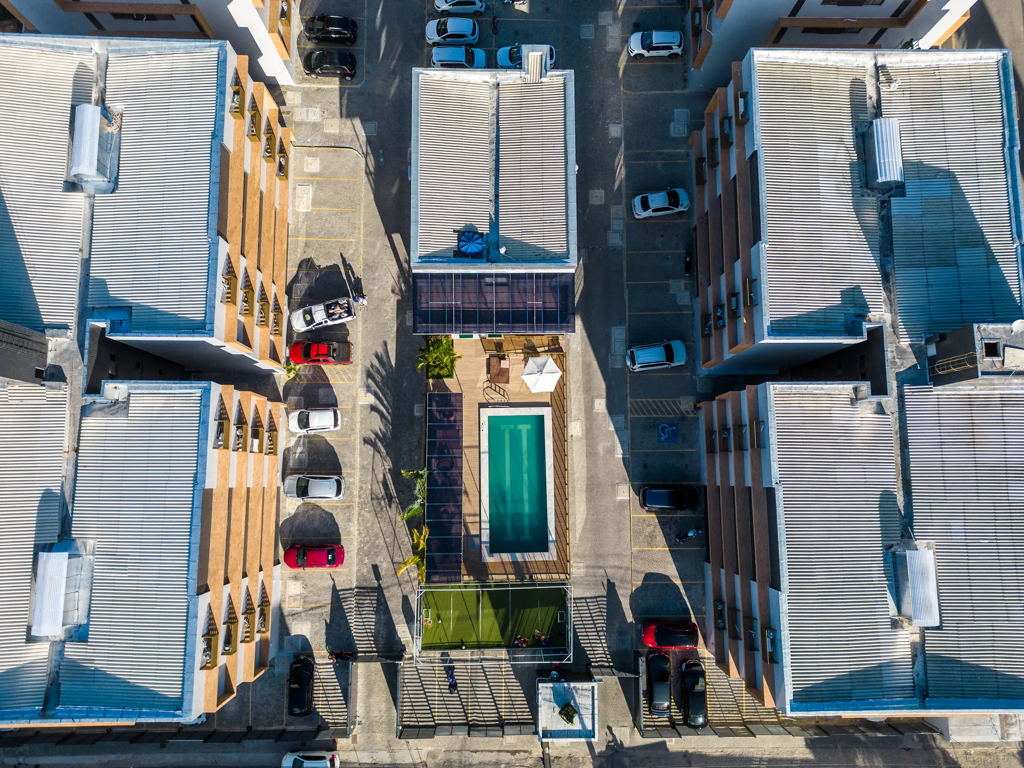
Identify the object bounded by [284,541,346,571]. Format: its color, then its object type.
red car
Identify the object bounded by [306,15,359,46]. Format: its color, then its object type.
black car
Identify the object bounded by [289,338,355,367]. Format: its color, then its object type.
red truck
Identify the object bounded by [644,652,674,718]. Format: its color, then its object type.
black car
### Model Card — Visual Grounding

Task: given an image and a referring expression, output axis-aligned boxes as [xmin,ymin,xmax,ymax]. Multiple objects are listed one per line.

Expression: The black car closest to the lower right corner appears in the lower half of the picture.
[678,657,709,726]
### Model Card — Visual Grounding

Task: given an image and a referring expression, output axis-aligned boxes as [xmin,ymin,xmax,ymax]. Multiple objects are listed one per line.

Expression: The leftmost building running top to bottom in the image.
[0,42,295,724]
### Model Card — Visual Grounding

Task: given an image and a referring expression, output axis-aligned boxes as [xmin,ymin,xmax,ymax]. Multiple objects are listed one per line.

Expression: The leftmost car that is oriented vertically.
[286,649,317,718]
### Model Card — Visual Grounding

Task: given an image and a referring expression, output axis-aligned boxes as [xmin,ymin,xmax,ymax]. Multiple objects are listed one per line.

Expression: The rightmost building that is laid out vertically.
[689,44,1024,719]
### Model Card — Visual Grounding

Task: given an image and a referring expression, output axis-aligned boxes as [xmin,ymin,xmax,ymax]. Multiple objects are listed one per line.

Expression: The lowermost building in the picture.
[538,673,597,742]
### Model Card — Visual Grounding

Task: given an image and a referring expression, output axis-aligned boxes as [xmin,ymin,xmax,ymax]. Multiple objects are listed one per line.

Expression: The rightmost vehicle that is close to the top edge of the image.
[628,29,684,60]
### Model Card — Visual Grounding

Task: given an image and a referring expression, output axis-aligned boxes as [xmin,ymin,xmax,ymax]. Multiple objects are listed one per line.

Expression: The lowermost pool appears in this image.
[480,407,555,562]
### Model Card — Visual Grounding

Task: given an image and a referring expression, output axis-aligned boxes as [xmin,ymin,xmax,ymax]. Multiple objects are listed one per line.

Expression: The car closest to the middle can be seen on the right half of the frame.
[625,339,684,371]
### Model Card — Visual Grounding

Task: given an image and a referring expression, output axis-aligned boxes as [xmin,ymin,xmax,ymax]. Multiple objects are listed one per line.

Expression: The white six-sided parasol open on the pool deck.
[521,357,563,393]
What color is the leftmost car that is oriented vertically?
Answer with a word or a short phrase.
black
